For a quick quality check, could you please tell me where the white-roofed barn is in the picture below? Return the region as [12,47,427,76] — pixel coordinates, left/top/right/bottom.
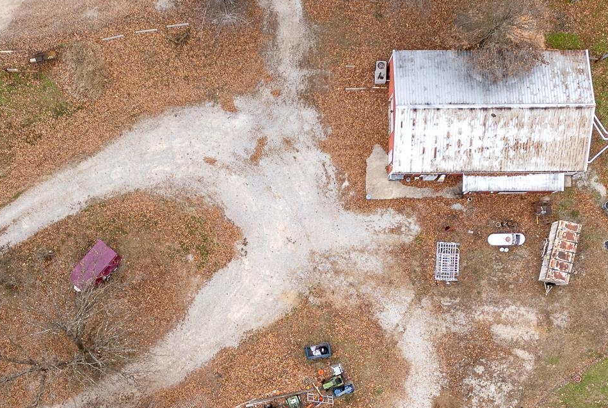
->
[388,50,597,195]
